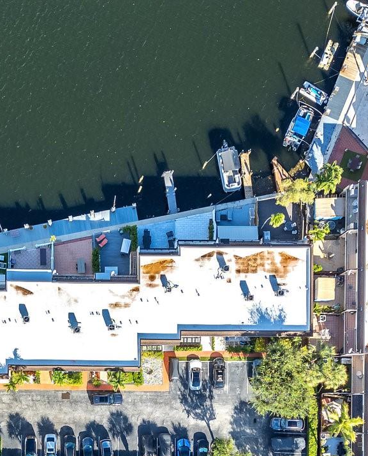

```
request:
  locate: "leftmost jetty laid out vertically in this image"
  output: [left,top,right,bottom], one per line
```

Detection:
[160,170,180,215]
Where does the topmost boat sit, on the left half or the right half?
right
